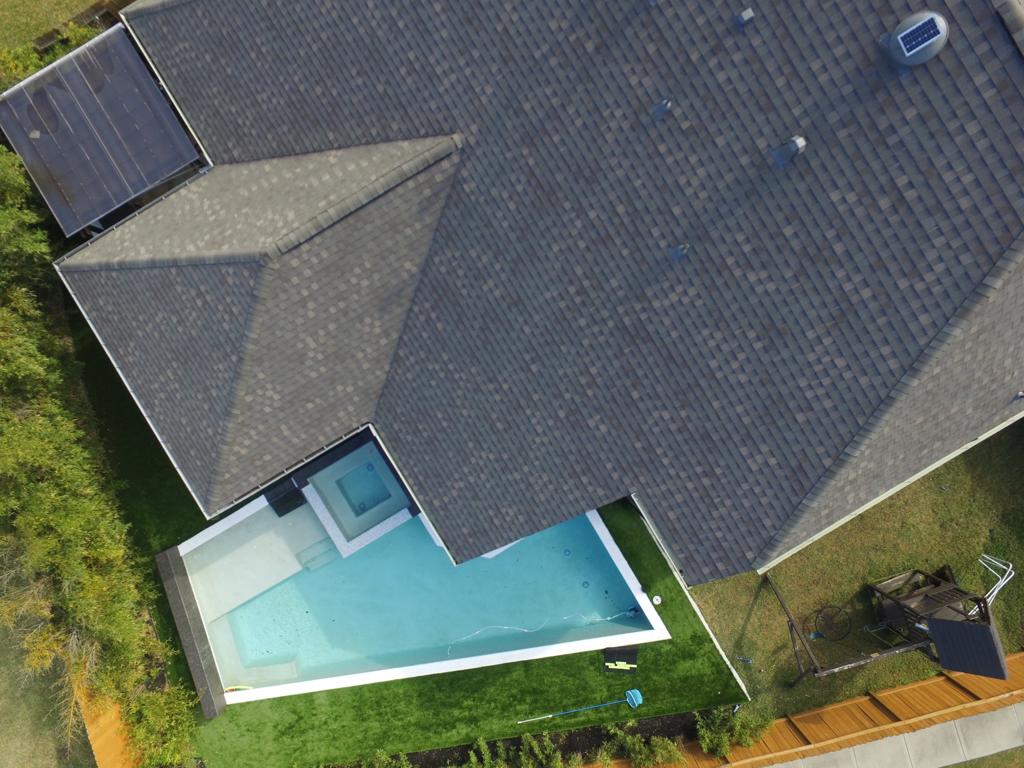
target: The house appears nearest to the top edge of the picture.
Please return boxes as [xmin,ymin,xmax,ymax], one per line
[46,0,1024,593]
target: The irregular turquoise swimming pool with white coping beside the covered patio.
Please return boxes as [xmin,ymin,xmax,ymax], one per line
[178,483,671,704]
